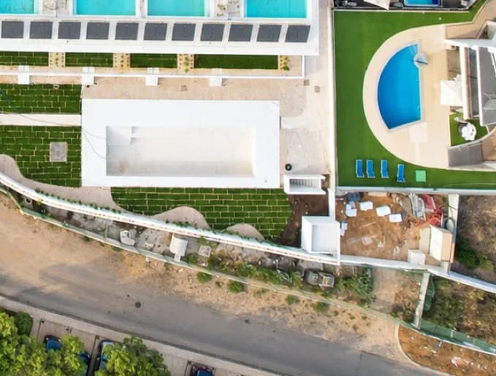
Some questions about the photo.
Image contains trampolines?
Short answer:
No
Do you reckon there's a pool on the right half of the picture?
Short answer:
Yes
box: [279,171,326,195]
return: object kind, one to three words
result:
house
